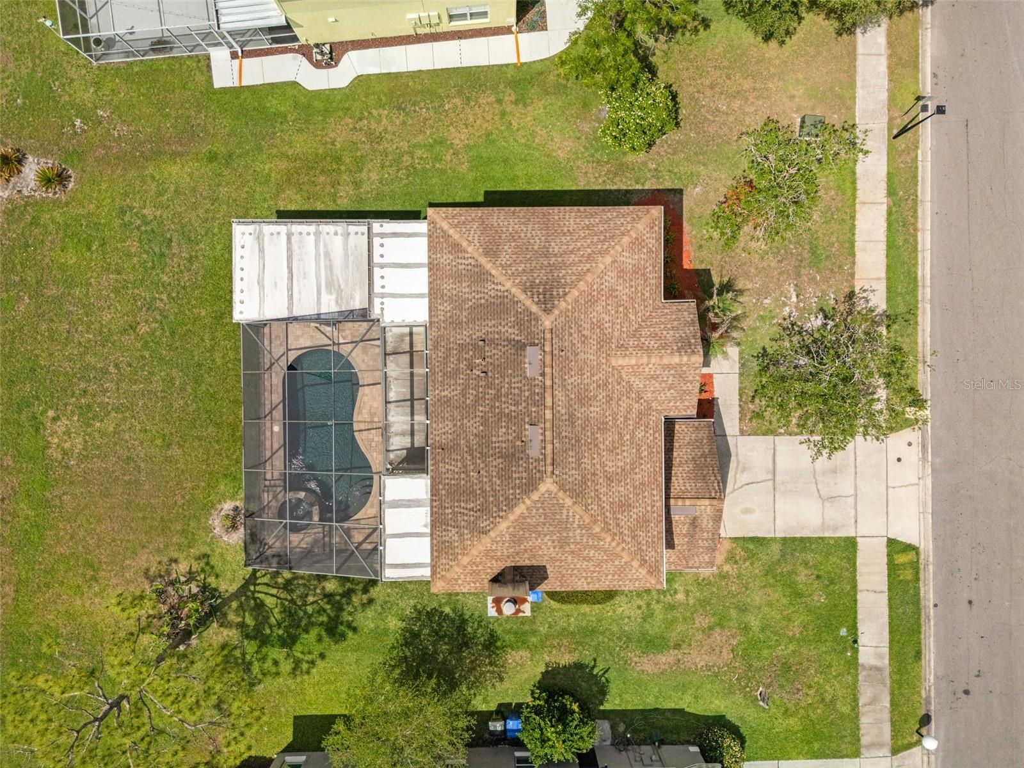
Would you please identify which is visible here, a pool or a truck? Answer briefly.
pool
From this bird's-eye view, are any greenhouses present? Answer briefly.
No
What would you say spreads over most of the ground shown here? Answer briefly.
grass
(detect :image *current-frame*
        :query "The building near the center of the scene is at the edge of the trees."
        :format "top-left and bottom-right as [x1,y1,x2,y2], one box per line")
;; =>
[428,204,727,617]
